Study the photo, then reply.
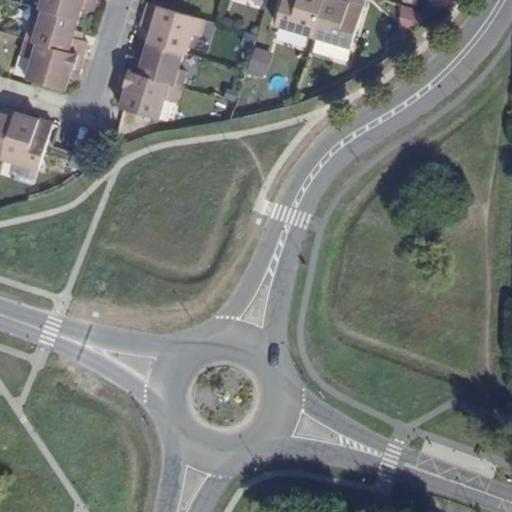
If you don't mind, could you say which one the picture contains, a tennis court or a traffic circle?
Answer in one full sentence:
There is a traffic circle in the scene.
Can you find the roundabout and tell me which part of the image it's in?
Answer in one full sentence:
The roundabout is located in the bottom region of the scene.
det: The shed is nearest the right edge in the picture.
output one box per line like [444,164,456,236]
[400,3,416,28]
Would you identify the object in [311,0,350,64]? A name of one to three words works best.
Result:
house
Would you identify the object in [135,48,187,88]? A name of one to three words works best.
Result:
house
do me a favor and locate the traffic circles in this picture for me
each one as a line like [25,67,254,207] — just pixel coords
[149,321,299,471]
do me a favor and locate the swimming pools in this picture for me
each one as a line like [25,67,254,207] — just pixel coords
[270,74,290,92]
